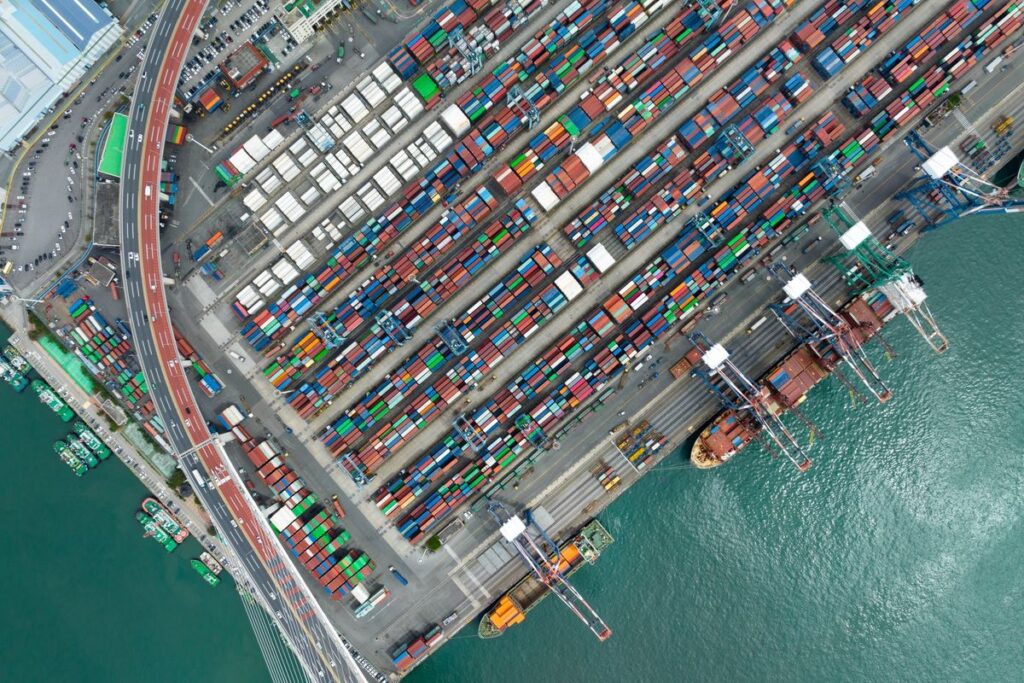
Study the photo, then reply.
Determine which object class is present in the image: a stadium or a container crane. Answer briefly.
container crane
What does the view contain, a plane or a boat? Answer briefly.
boat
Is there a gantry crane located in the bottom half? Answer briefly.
Yes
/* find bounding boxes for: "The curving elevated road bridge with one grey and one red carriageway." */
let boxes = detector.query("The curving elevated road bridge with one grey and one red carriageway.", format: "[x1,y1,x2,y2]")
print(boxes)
[120,0,372,683]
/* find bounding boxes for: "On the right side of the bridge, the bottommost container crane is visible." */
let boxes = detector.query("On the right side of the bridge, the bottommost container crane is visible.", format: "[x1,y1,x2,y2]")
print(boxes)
[485,499,609,642]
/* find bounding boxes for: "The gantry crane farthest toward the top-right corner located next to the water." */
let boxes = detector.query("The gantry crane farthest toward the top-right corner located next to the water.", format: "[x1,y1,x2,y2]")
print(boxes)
[890,138,1024,233]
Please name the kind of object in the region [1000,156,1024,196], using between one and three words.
ship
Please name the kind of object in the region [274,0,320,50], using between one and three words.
building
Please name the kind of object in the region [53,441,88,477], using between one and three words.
boat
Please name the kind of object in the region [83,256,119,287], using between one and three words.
building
